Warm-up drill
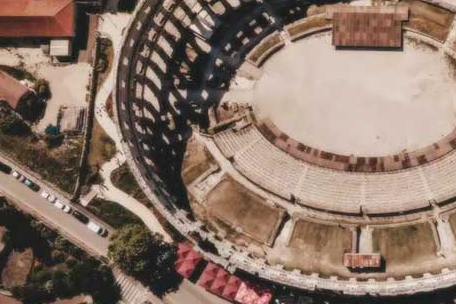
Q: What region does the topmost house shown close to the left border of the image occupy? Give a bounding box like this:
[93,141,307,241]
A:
[0,0,85,41]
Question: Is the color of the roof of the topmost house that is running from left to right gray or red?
red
